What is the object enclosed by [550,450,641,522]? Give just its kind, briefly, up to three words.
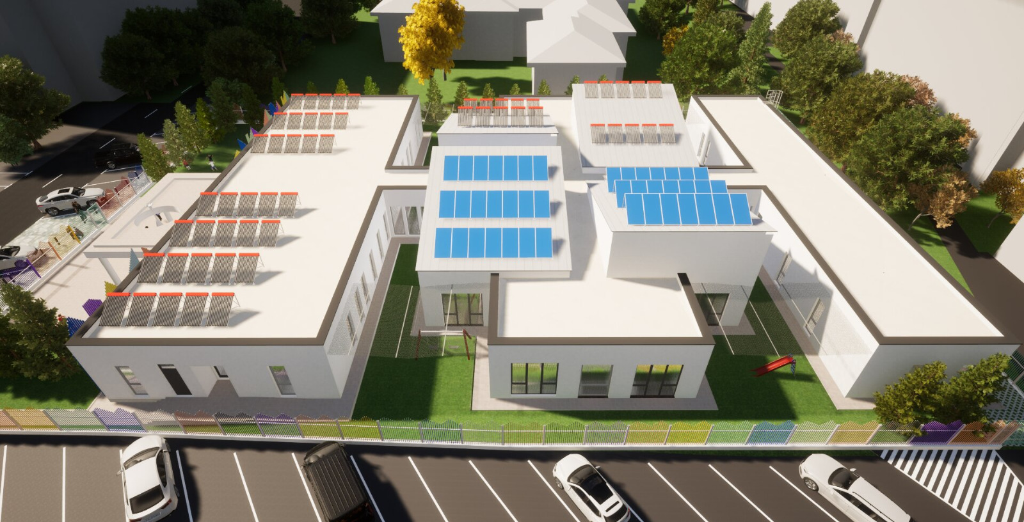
car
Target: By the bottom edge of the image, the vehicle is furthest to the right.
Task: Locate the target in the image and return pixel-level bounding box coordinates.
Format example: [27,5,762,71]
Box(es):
[791,450,922,522]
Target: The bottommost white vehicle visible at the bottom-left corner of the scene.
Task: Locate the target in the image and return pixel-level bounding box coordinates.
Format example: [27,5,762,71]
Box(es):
[114,432,177,522]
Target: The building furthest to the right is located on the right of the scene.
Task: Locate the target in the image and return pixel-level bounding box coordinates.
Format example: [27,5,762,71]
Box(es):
[994,217,1024,281]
